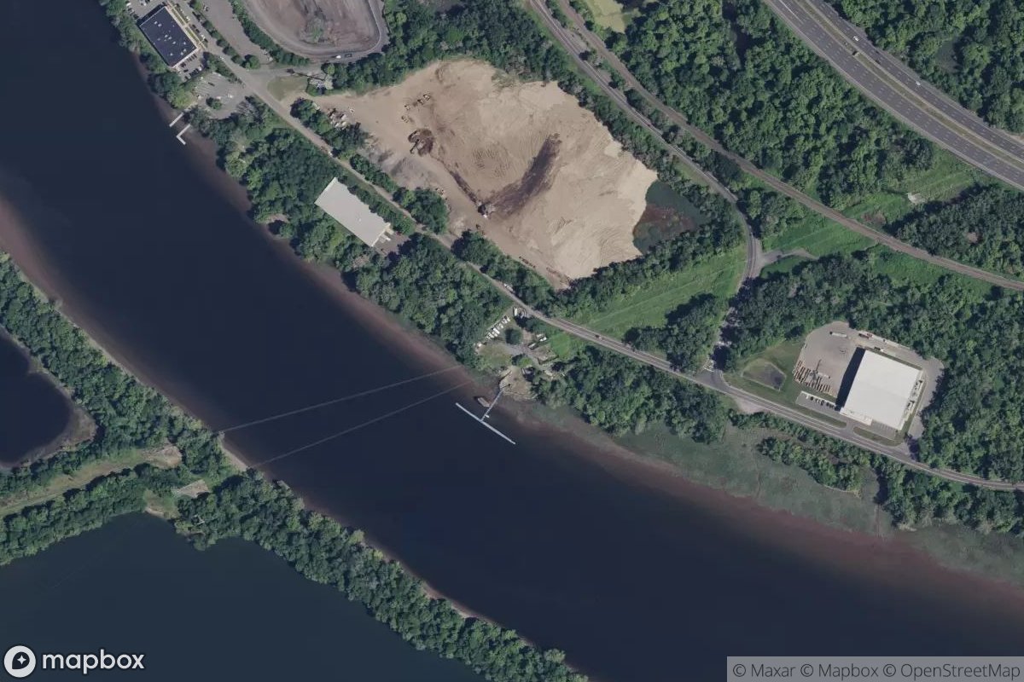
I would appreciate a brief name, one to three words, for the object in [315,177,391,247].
building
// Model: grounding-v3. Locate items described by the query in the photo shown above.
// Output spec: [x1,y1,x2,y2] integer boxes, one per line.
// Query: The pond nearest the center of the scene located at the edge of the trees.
[633,176,714,255]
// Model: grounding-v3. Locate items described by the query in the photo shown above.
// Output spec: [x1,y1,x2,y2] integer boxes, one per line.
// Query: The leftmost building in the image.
[140,7,198,66]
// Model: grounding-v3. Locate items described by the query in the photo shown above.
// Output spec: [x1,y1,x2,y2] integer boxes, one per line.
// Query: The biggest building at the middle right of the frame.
[839,350,923,430]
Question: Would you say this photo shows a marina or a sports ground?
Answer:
marina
